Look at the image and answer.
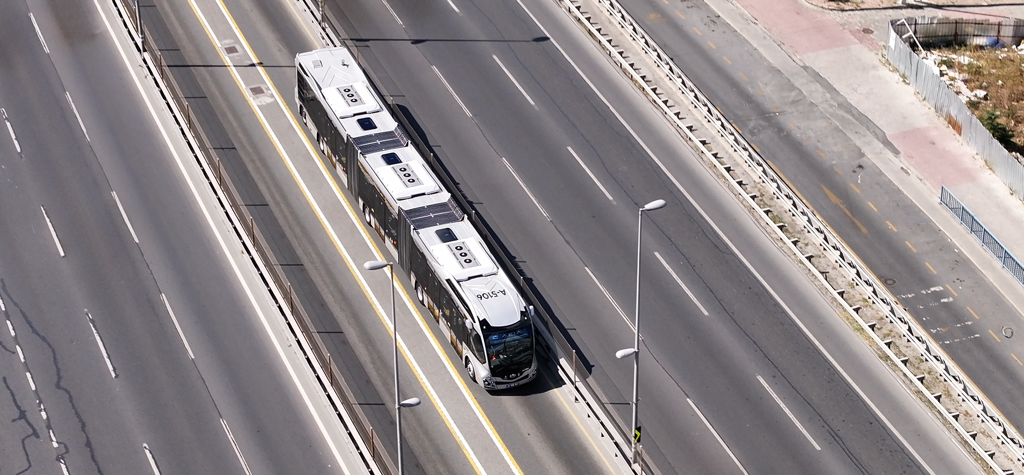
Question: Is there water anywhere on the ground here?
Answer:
No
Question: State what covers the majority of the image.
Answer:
paved ground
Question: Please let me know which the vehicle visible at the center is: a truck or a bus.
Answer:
bus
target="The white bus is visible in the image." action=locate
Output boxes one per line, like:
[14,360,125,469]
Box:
[294,46,539,390]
